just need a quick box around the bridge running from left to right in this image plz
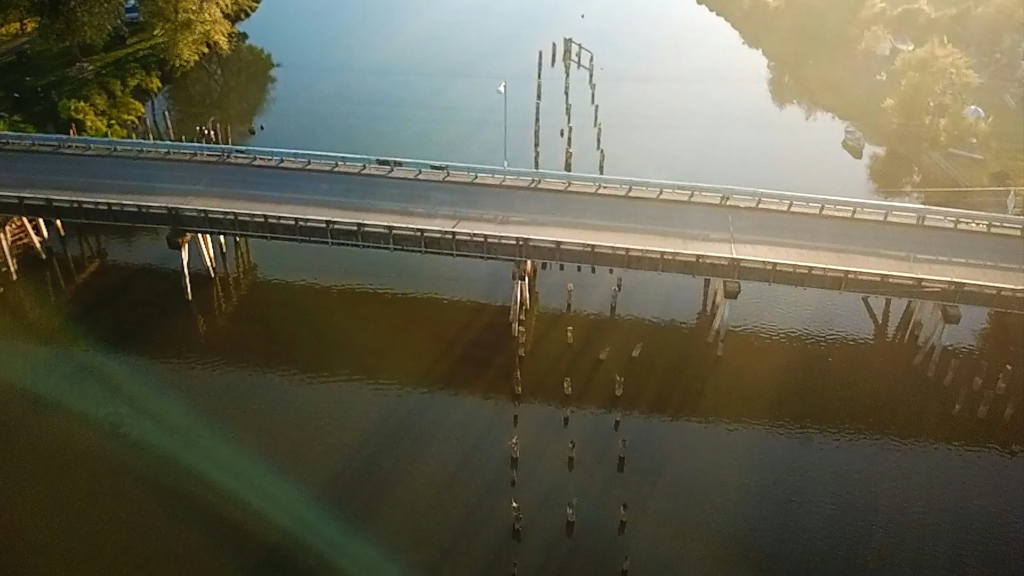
[0,132,1024,378]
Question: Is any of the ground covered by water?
Yes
